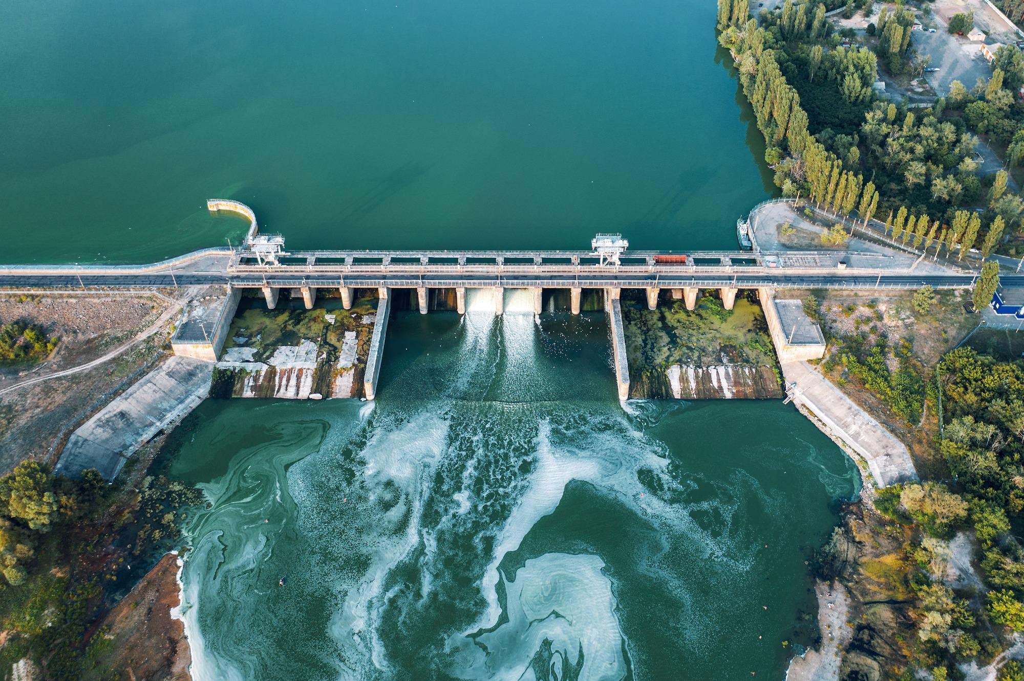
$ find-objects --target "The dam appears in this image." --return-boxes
[224,247,880,314]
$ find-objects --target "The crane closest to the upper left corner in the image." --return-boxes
[249,230,287,265]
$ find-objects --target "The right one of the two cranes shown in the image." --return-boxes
[594,230,630,265]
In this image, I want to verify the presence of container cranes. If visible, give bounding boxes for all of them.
[249,230,287,265]
[594,230,630,265]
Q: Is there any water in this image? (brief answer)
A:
Yes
